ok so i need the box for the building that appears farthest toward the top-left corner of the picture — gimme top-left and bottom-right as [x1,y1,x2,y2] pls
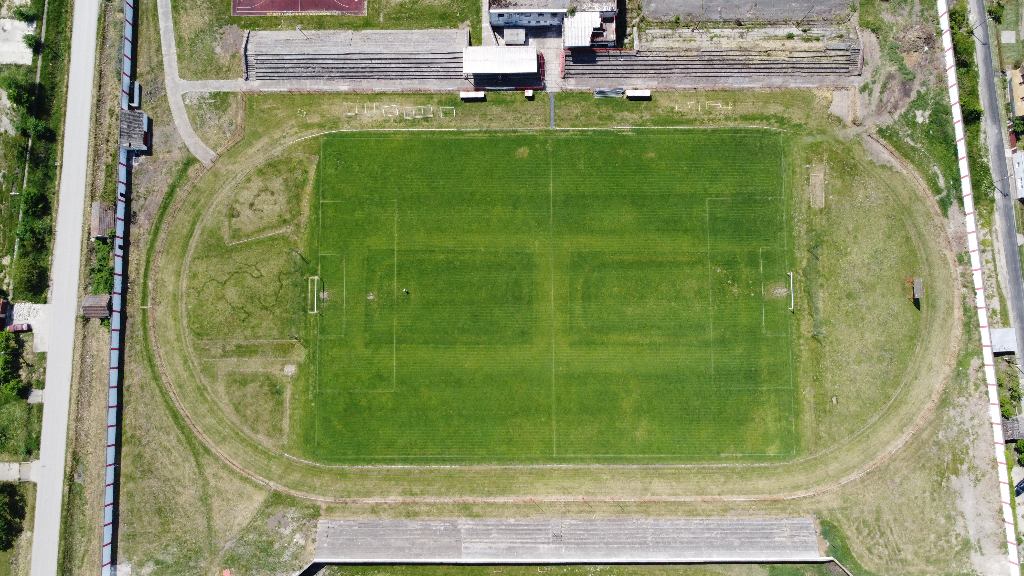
[121,111,148,151]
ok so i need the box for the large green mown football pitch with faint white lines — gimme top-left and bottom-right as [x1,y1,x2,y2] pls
[313,127,798,466]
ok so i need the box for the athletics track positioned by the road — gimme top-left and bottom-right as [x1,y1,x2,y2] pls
[153,91,956,499]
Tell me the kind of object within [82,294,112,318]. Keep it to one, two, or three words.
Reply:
shed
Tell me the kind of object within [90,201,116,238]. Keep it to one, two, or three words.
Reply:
shed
